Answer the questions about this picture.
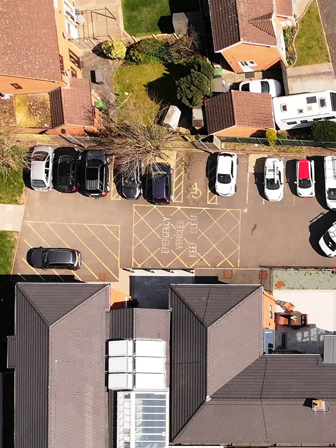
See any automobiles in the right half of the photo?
Yes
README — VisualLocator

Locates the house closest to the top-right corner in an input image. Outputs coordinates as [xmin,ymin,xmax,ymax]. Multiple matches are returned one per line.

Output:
[208,0,301,77]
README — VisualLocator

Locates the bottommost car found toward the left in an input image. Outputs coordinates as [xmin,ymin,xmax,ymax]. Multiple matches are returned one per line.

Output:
[28,244,84,272]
